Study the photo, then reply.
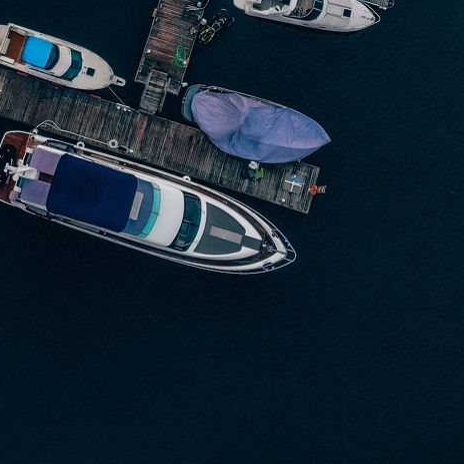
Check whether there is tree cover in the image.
No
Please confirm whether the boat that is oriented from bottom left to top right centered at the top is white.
No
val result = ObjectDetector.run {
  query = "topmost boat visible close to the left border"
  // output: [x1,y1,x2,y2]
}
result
[0,23,122,87]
